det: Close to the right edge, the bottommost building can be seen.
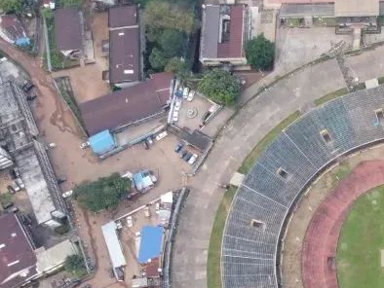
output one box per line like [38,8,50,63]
[335,17,379,31]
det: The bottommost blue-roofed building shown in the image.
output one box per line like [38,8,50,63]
[138,225,165,262]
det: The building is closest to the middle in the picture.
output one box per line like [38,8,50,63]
[166,125,213,149]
